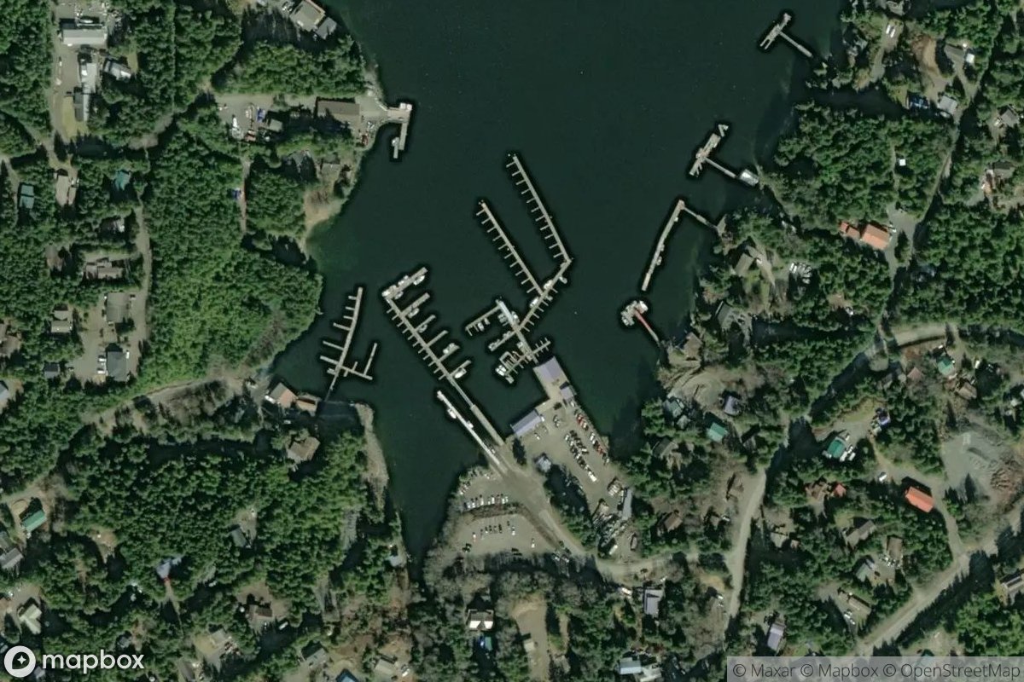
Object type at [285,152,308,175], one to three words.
house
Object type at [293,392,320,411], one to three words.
building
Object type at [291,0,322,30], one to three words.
house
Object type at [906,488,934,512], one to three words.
barn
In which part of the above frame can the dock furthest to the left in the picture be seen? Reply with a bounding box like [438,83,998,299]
[320,287,377,402]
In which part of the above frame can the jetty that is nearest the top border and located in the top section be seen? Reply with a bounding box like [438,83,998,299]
[760,15,813,57]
